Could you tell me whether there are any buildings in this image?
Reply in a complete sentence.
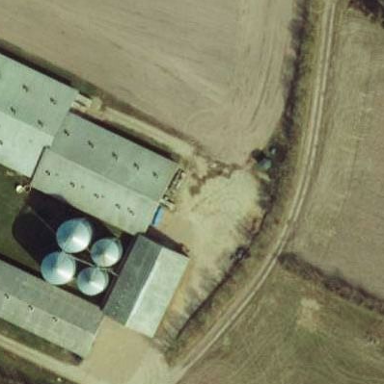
Yes, a building appears in the view.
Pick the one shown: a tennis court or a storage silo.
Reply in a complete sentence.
Looking from above, you can make out a storage silo.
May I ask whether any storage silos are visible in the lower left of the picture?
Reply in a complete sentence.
Yes, looking in the lower left of the picture, one can make out a storage silo.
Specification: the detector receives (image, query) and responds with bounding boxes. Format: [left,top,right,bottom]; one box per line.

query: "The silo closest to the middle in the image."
[90,237,121,268]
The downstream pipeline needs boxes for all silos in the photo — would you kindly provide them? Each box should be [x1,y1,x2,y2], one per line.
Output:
[90,237,121,268]
[77,266,108,298]
[39,251,77,287]
[55,218,91,254]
